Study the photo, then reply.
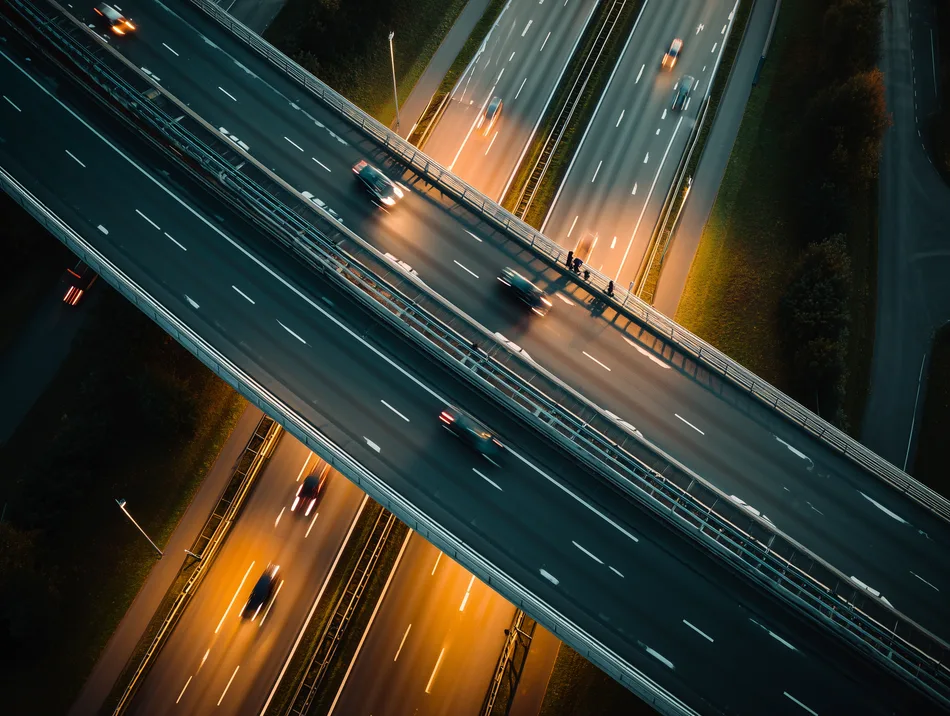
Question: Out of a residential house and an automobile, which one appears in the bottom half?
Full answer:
It is an automobile that can be seen in the bottom half.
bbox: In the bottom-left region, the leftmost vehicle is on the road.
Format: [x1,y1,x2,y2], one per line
[239,567,279,621]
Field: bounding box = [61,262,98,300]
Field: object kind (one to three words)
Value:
truck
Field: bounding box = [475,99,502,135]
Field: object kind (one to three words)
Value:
car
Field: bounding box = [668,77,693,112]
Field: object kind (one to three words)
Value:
car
